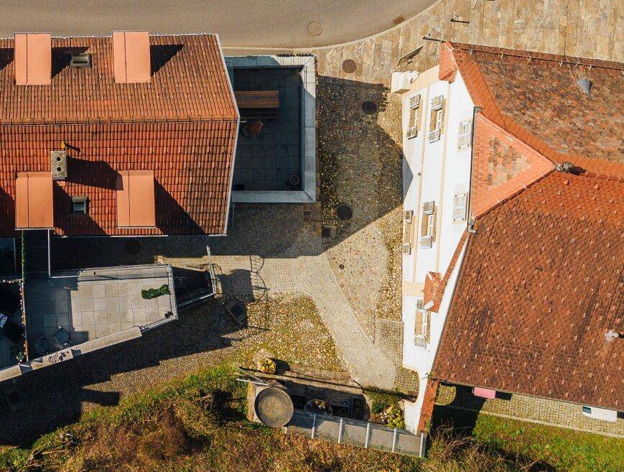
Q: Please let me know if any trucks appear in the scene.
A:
No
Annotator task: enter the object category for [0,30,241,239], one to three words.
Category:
house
